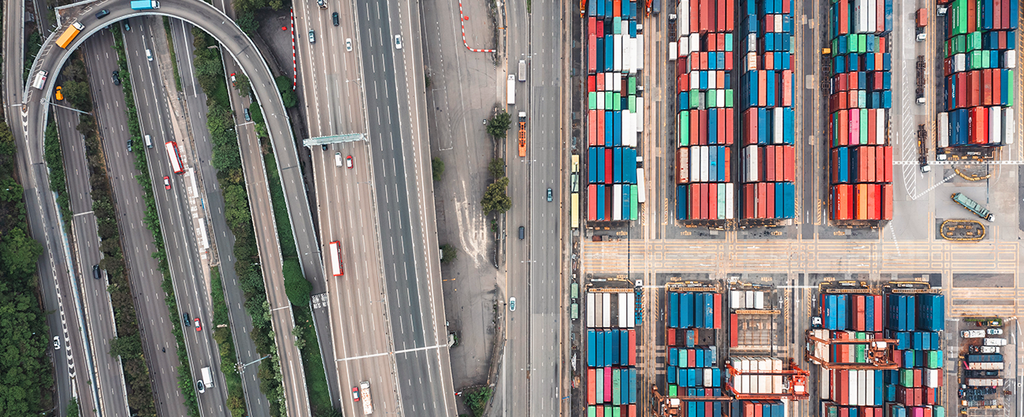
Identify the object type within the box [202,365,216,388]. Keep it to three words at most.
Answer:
vehicle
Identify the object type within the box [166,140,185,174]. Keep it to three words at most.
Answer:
vehicle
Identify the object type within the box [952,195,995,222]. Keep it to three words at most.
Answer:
truck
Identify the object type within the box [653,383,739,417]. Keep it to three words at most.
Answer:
container crane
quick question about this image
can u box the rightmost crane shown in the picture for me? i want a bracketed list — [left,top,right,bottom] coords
[807,331,903,368]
